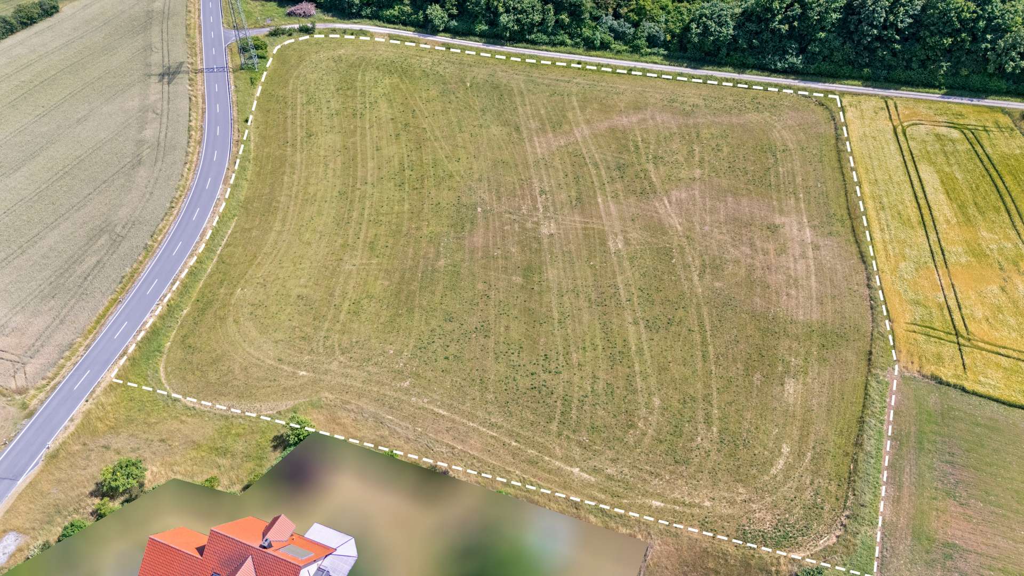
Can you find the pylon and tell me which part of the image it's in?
top left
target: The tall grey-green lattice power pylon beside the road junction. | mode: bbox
[218,0,261,71]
